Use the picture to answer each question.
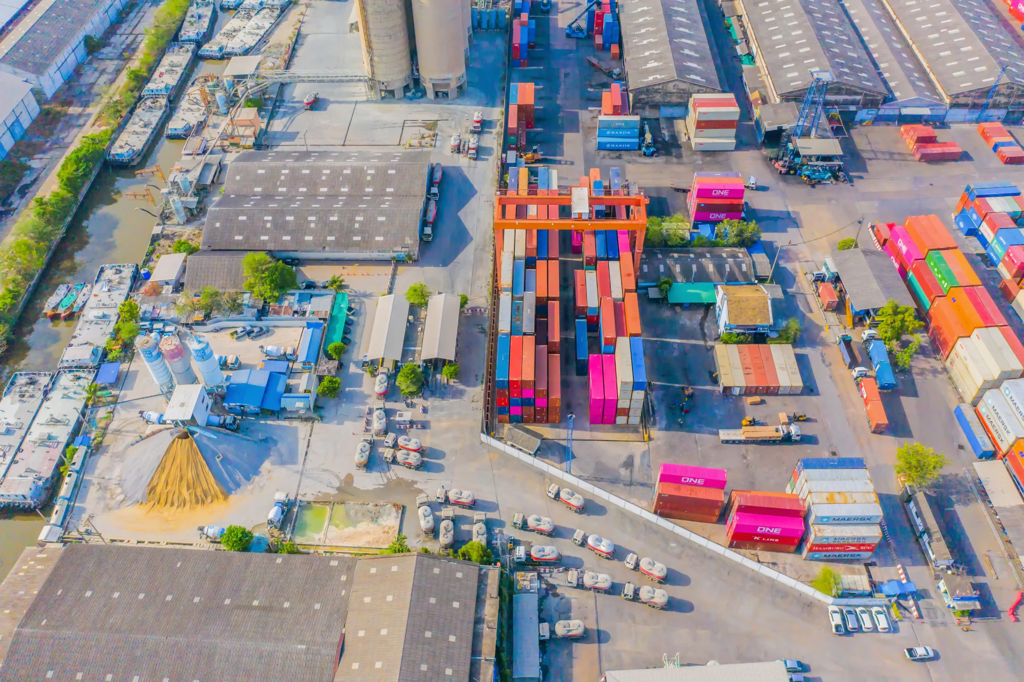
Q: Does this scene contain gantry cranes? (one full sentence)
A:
Yes, the picture does show a gantry crane.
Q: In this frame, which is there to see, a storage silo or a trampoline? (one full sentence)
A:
It is a storage silo that can be seen here.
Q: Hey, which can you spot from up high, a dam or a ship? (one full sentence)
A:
Looking from above, you can make out a ship.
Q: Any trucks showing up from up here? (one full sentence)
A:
Yes, a truck is visible in the scene.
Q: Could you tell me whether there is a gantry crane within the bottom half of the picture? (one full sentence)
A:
No, no gantry crane can be made out within the bottom half of the picture.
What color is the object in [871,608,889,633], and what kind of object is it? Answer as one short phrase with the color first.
white car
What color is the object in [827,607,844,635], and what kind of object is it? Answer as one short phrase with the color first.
white vehicle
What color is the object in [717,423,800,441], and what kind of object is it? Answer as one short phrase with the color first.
white vehicle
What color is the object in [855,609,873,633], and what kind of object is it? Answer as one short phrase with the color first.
white car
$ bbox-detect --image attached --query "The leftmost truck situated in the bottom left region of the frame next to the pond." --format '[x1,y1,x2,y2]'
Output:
[265,494,292,537]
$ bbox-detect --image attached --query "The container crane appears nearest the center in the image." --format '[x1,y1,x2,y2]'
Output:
[493,182,650,303]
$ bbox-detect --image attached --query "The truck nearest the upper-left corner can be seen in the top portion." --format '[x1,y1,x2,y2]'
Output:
[303,92,324,113]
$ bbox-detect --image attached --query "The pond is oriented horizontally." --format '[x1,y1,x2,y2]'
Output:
[289,498,404,550]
